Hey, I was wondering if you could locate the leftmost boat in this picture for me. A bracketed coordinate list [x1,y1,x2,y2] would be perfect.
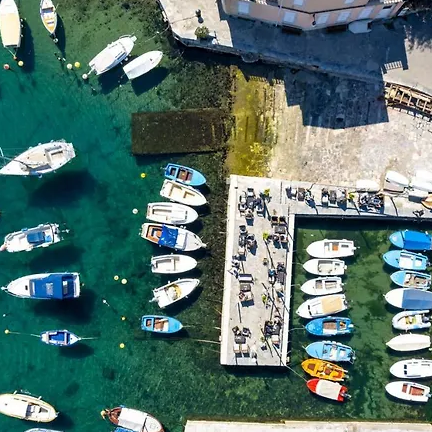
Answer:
[0,0,23,51]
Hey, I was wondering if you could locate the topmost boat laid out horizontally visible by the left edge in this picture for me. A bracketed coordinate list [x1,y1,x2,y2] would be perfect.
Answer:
[0,141,80,176]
